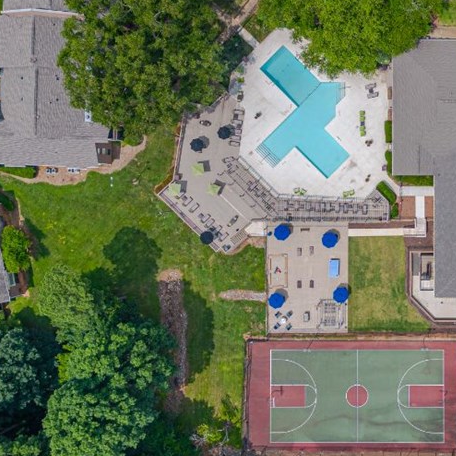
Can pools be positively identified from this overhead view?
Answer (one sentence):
Yes, you can see a pool in this photo.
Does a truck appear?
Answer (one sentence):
No, this view has no truck in it.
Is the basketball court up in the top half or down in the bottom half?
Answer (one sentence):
You can find the basketball court in the bottom half.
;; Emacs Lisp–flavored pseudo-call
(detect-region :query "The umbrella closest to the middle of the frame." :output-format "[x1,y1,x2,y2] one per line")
[200,231,214,244]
